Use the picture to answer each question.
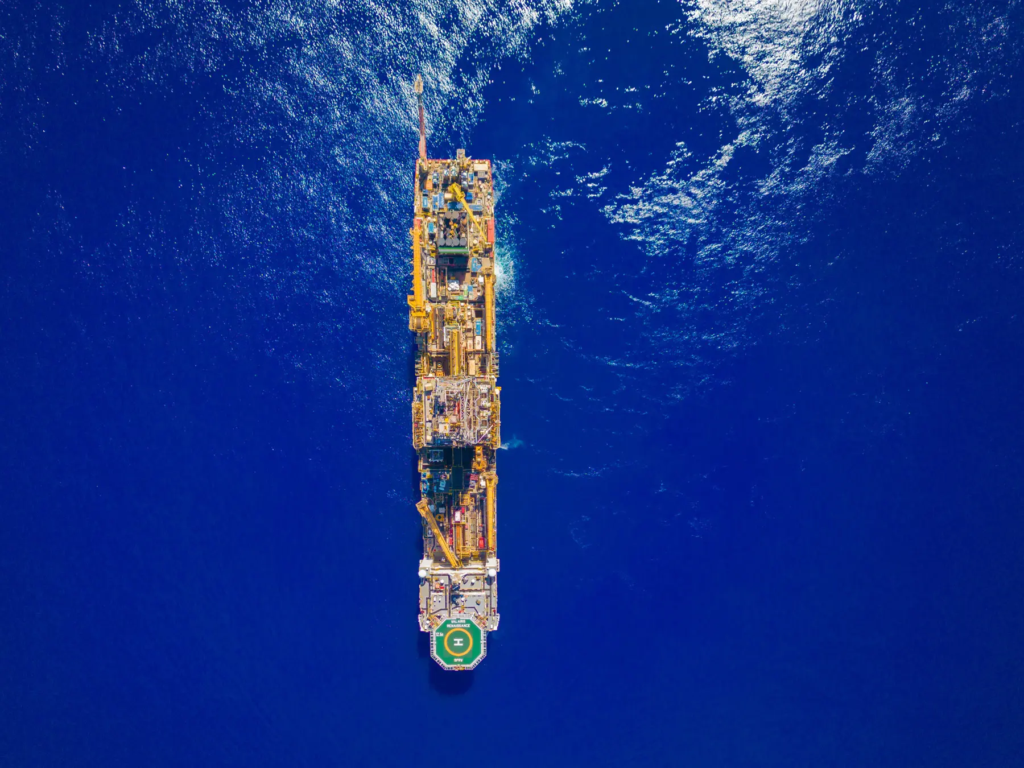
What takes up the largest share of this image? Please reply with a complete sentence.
Most of the picture is covered by water.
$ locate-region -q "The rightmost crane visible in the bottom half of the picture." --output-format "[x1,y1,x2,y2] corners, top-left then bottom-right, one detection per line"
[480,473,498,551]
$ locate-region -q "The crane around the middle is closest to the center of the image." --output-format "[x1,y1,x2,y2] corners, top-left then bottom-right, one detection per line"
[478,273,496,351]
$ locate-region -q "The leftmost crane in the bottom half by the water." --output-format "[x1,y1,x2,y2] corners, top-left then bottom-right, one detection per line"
[416,498,464,570]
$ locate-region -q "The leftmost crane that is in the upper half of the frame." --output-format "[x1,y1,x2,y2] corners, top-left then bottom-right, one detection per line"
[408,224,432,333]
